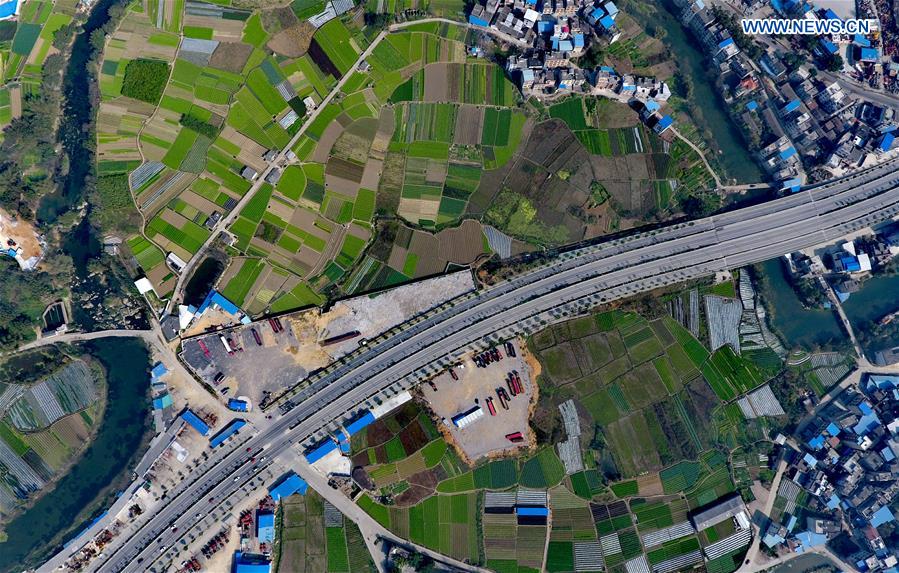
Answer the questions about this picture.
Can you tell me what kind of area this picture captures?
residential area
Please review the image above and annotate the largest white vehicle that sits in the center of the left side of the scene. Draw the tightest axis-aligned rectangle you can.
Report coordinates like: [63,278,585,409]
[219,334,234,355]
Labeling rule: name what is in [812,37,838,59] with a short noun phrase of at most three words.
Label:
house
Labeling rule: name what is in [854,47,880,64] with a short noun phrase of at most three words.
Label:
shed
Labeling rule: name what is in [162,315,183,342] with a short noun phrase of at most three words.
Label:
house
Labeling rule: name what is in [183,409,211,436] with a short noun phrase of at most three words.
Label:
shed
